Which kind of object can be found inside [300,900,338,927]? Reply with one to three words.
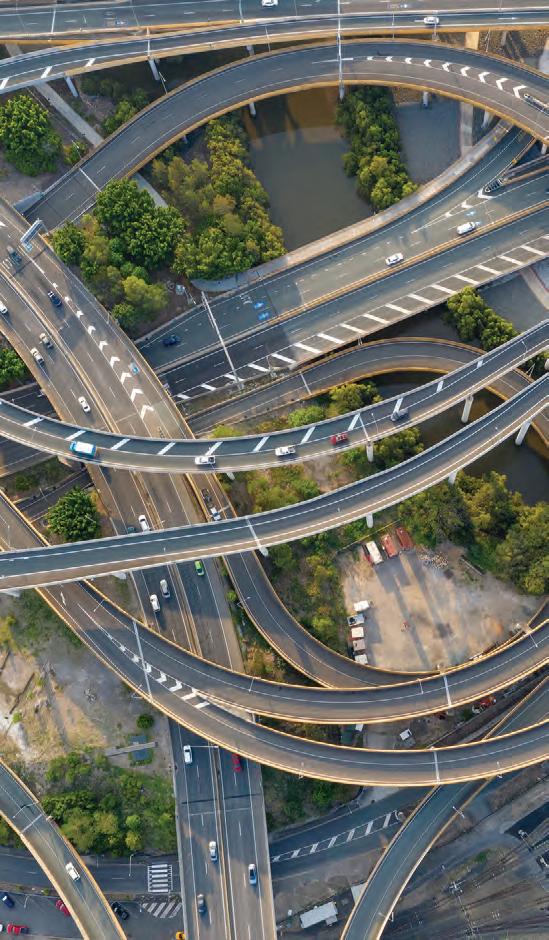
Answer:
shed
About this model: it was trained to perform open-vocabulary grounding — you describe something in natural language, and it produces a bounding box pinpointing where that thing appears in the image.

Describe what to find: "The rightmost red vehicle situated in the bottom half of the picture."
[477,694,495,709]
